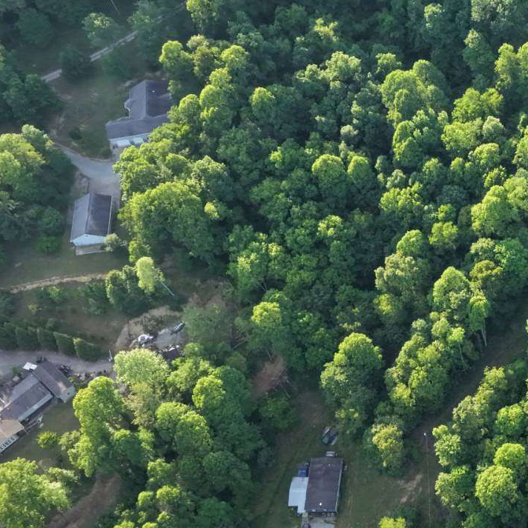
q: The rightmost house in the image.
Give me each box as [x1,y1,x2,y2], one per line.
[289,459,345,521]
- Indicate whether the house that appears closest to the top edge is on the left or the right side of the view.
left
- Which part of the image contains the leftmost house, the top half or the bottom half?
bottom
